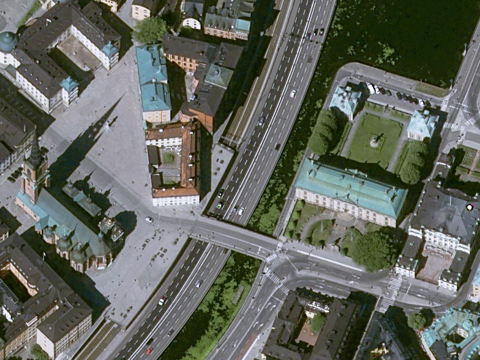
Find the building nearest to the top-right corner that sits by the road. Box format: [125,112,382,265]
[405,102,440,145]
